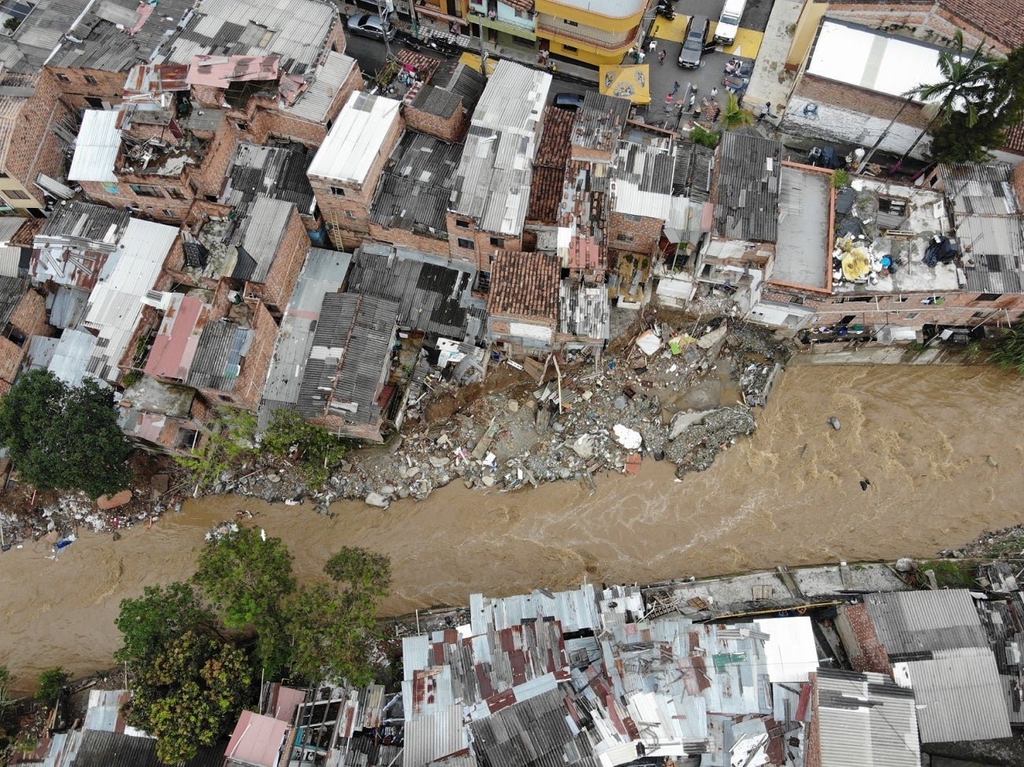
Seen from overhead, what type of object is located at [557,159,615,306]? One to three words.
house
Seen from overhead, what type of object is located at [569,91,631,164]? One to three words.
house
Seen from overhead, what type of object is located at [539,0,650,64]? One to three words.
building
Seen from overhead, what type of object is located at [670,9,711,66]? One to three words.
car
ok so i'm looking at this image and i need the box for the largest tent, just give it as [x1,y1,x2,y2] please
[596,64,650,121]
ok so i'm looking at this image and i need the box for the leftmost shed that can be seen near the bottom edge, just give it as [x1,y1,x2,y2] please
[8,732,84,767]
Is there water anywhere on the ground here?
Yes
